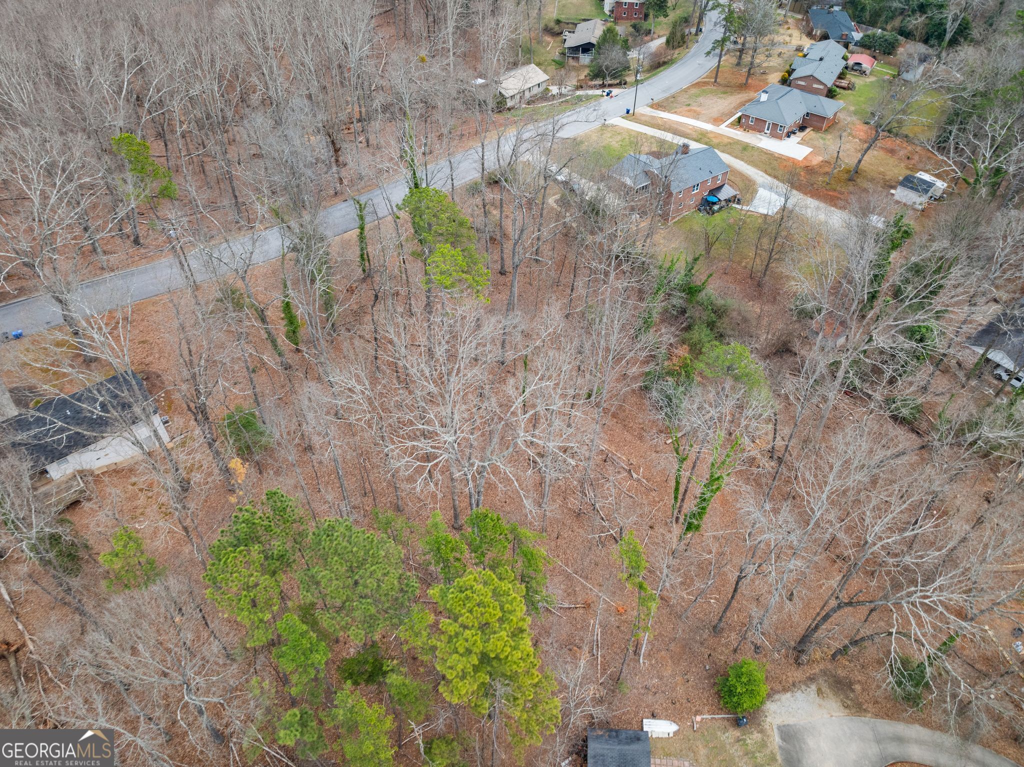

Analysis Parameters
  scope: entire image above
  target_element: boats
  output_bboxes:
[643,715,680,733]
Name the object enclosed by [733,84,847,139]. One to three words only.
house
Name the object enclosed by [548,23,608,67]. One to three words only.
house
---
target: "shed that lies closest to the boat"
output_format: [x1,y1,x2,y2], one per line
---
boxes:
[588,727,657,767]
